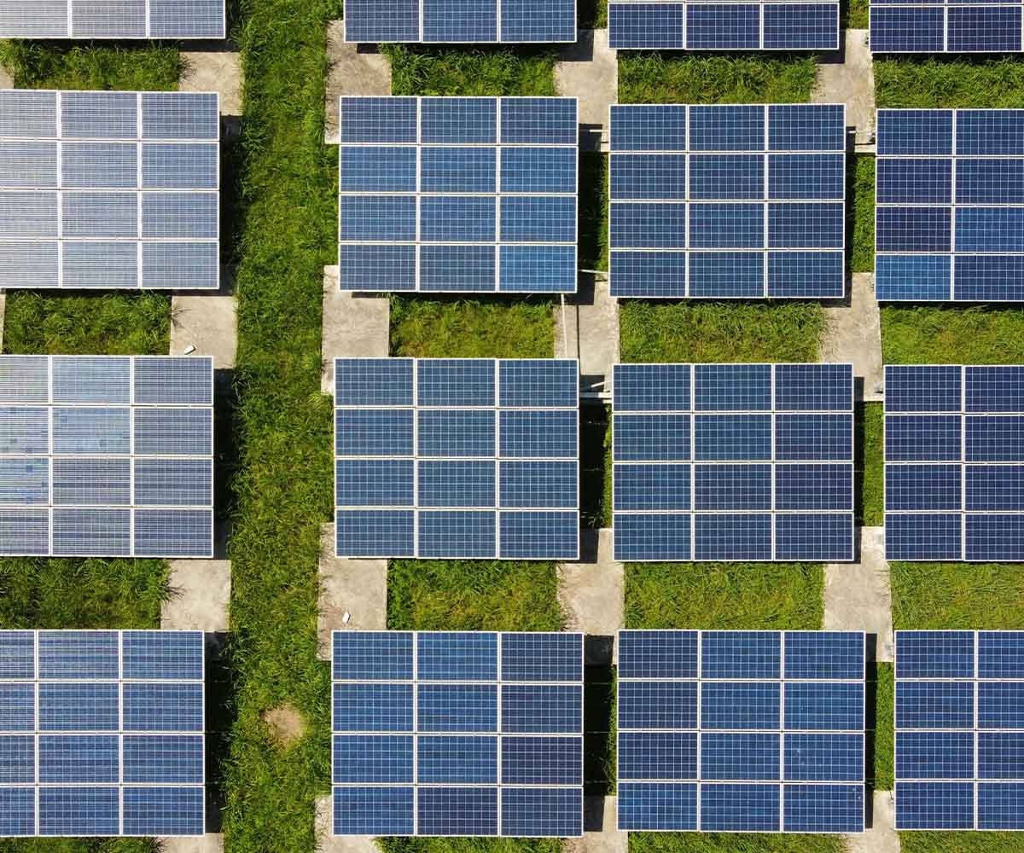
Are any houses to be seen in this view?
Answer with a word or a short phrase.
No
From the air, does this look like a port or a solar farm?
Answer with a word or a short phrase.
solar farm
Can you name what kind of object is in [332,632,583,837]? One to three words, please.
solar array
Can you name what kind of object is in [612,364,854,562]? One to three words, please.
solar array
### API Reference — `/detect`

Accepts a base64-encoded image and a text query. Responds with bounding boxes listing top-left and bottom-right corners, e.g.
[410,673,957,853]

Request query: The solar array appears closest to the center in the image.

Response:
[335,359,578,559]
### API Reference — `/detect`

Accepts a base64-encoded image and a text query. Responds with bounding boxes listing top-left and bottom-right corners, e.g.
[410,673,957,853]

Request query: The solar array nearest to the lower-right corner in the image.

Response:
[885,630,1024,831]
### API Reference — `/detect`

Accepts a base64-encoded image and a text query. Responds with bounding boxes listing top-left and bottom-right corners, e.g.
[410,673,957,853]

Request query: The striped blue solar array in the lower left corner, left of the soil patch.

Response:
[0,631,214,837]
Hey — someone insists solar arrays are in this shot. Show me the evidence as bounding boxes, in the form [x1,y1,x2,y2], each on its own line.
[0,631,214,837]
[608,104,845,298]
[332,632,583,837]
[344,0,578,45]
[885,630,1024,831]
[0,357,222,557]
[608,0,839,50]
[617,629,865,832]
[335,359,578,559]
[0,0,230,39]
[867,109,1024,301]
[0,91,228,289]
[865,0,1024,53]
[874,365,1024,561]
[339,97,578,292]
[612,364,854,562]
